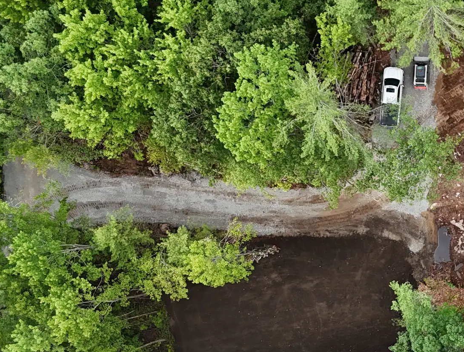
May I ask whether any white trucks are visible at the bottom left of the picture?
No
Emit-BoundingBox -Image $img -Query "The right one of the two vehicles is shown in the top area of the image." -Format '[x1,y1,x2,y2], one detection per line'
[412,58,431,90]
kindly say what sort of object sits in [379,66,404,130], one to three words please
truck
